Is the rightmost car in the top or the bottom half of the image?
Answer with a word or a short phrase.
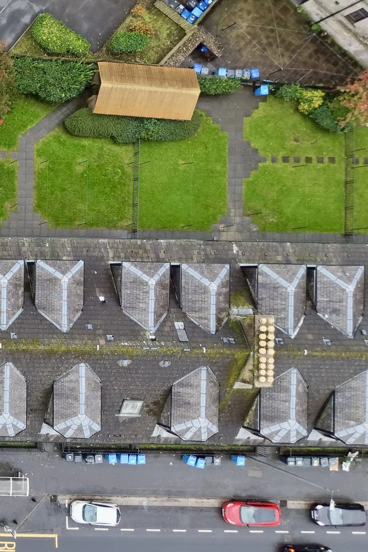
bottom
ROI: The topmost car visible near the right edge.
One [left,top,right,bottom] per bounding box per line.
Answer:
[307,501,368,529]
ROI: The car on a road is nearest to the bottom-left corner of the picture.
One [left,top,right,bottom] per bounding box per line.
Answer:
[68,498,122,527]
